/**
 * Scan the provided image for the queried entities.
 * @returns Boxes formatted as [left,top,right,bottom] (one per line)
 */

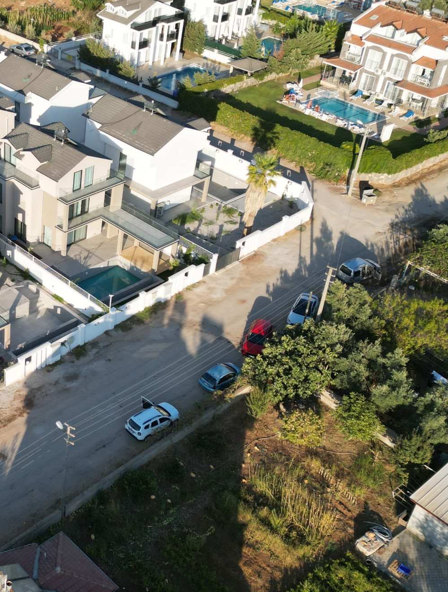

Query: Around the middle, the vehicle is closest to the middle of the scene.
[244,318,273,355]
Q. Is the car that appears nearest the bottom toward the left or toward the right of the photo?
left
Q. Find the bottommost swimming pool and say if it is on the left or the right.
left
